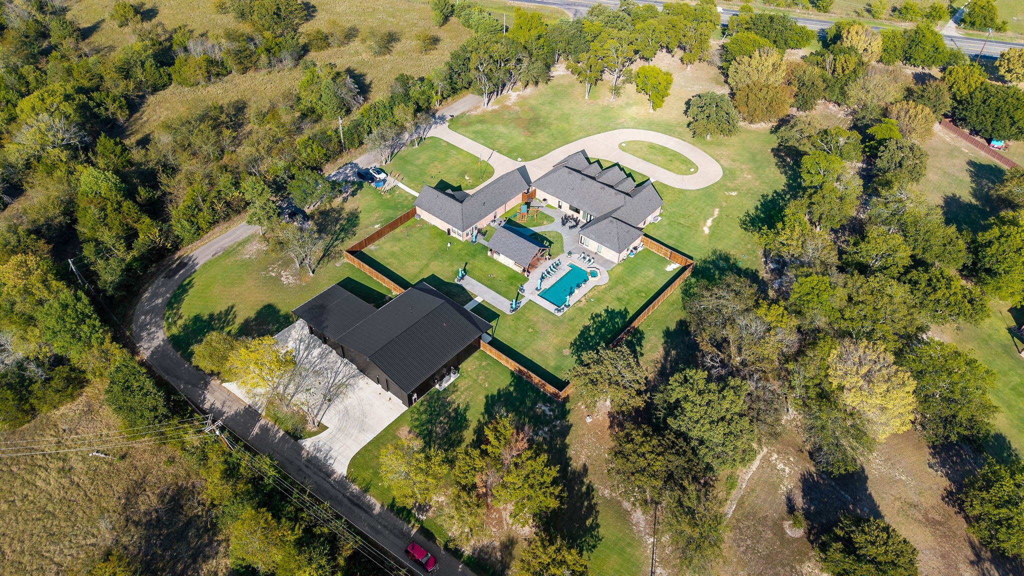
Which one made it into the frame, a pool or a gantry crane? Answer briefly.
pool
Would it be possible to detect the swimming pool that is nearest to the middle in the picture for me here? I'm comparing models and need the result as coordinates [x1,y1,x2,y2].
[537,262,593,307]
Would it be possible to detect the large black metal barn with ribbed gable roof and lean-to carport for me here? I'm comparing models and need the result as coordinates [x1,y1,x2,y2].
[291,283,496,409]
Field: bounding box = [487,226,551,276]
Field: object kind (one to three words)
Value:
building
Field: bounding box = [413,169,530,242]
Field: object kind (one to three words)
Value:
house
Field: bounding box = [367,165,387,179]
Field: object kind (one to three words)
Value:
car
